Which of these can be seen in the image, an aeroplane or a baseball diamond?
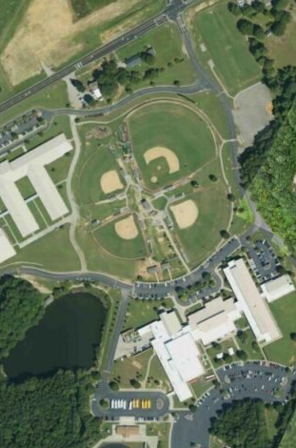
baseball diamond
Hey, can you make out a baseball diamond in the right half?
Yes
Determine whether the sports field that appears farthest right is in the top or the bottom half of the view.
top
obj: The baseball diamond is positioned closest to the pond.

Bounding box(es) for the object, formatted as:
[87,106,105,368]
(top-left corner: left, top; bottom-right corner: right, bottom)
[91,211,147,260]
